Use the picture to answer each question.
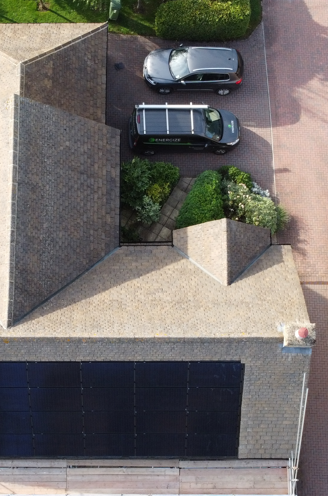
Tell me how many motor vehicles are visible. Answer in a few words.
2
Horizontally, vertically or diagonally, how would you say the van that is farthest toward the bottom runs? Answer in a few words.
horizontally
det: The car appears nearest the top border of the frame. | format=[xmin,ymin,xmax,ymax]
[142,44,245,99]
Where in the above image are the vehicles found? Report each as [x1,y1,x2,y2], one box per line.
[128,102,242,157]
[142,44,245,99]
